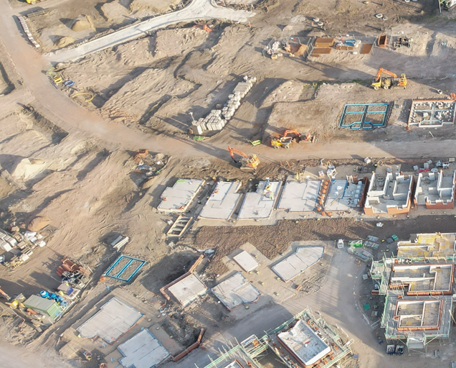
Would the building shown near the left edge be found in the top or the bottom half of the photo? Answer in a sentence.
The bottom half of the photo is where the building shown near the left edge is.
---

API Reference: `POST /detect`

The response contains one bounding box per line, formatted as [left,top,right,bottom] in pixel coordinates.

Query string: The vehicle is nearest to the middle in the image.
[226,149,262,171]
